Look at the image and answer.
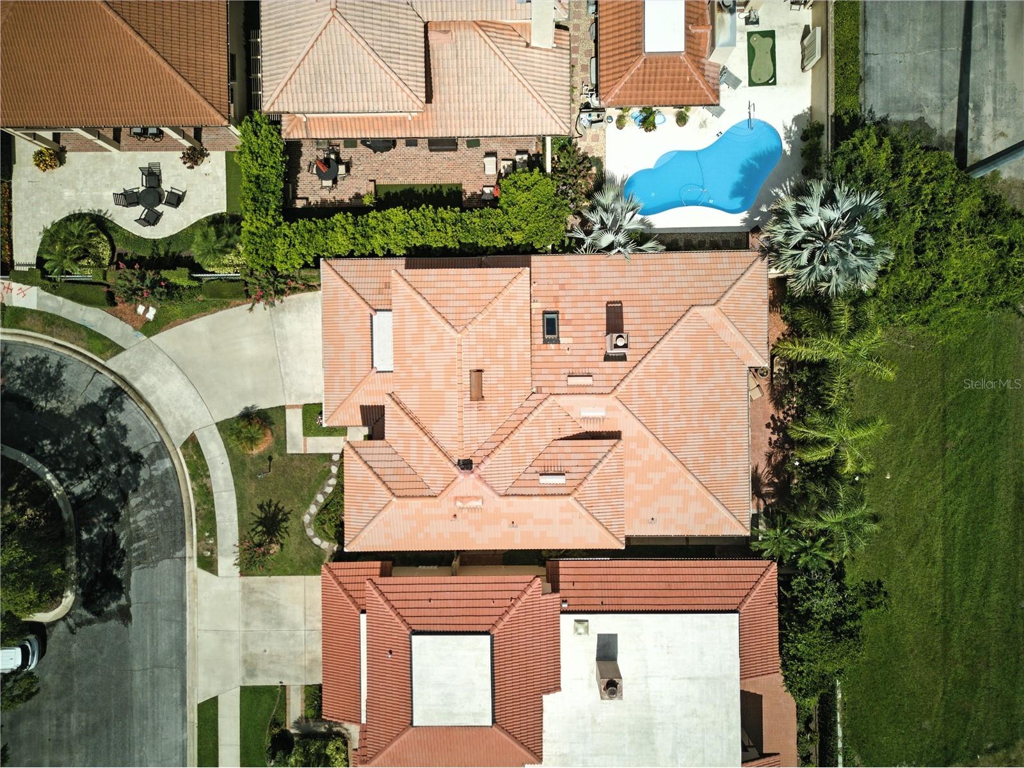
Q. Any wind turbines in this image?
No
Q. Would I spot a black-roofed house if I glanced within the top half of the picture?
No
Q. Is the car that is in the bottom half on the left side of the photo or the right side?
left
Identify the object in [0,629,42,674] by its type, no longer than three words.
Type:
car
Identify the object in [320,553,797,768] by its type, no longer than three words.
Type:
house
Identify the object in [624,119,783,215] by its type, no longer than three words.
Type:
swimming pool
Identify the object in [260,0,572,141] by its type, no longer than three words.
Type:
house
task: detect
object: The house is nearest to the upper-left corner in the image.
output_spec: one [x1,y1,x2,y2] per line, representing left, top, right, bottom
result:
[0,0,245,151]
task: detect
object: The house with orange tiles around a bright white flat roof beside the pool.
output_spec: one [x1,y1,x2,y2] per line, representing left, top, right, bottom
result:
[596,0,736,114]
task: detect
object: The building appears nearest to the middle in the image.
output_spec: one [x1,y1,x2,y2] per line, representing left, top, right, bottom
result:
[319,249,771,553]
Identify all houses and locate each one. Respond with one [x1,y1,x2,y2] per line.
[260,0,572,141]
[596,0,736,114]
[319,249,771,553]
[0,0,245,151]
[320,553,797,768]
